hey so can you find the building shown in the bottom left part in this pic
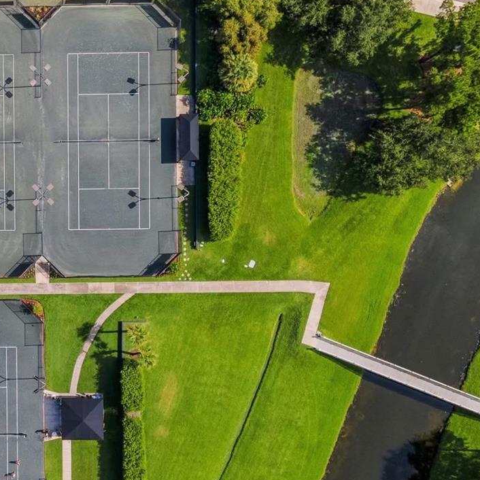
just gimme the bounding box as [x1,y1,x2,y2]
[62,394,103,440]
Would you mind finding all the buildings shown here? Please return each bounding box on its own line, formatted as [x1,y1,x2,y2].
[62,394,103,440]
[174,114,200,161]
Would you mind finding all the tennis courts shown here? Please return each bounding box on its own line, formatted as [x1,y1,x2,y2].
[0,5,42,278]
[41,3,179,277]
[0,298,46,480]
